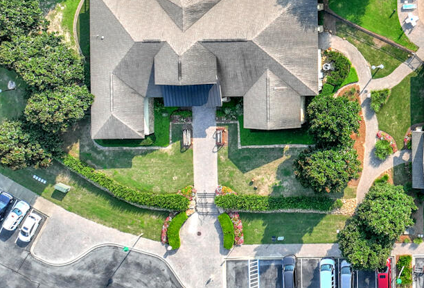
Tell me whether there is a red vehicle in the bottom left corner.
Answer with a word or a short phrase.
No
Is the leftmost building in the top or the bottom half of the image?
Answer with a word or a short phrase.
top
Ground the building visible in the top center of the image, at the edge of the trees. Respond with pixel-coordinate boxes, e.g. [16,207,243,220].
[91,0,321,140]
